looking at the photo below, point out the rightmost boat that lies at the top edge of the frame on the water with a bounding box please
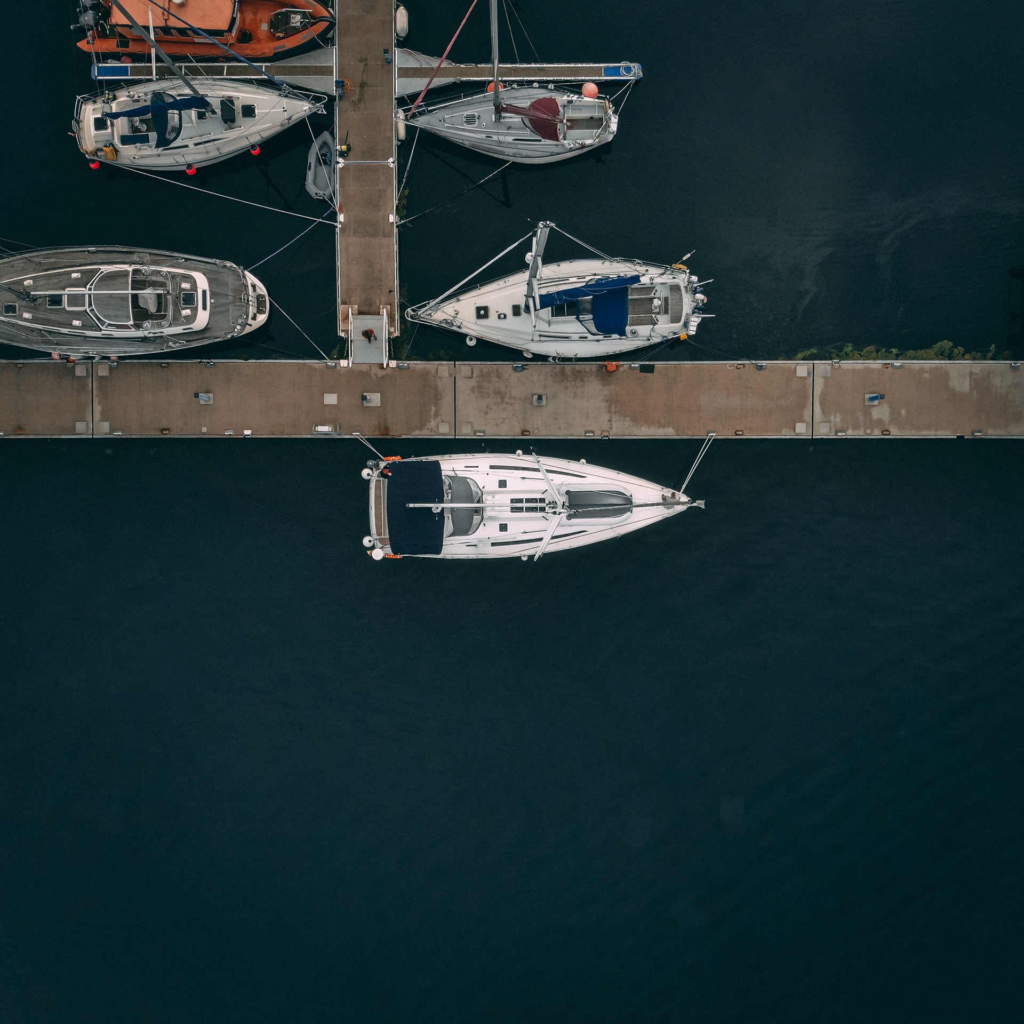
[393,0,618,161]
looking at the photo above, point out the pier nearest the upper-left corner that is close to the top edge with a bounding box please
[92,46,336,97]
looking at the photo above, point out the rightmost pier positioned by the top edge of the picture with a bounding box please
[396,47,642,98]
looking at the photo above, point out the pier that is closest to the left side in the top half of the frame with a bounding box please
[0,361,95,439]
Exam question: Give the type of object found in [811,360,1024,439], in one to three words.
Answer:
pier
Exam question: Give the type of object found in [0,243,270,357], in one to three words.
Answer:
boat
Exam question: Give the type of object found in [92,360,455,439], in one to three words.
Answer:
pier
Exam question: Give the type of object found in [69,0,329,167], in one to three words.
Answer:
boat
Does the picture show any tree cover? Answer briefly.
No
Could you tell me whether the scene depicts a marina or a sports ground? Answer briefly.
marina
